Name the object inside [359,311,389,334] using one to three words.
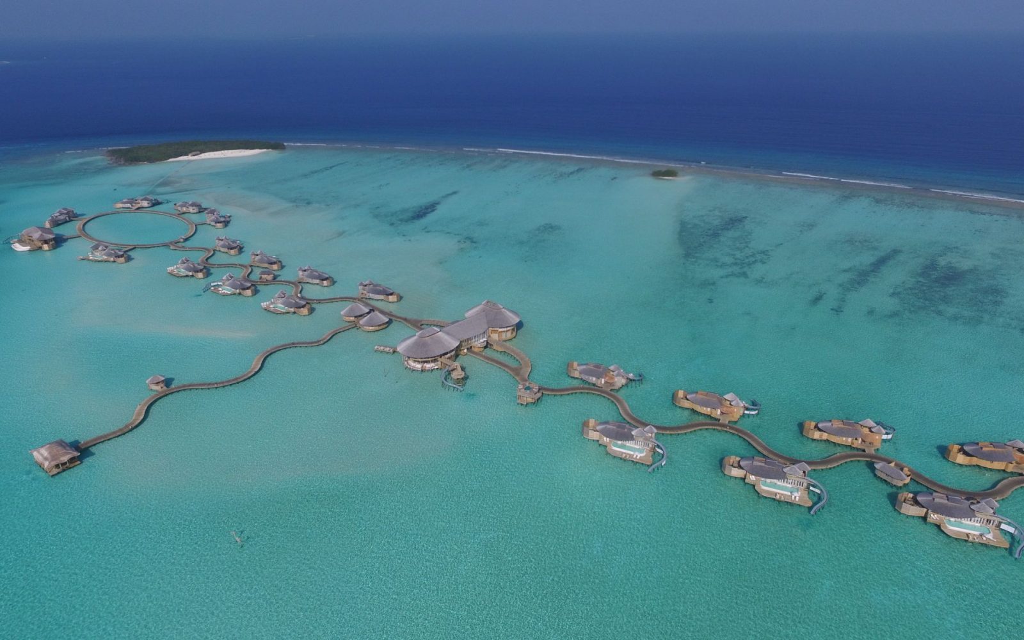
building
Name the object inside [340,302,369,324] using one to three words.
building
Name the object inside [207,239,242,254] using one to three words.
house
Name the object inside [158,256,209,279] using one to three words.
house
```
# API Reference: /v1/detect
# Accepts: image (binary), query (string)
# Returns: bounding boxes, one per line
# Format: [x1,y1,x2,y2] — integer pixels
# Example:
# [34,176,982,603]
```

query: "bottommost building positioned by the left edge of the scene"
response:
[30,438,82,477]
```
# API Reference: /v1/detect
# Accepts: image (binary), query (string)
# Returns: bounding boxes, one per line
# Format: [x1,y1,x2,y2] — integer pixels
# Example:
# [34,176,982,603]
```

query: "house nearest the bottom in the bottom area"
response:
[894,494,1024,561]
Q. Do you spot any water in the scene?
Yes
